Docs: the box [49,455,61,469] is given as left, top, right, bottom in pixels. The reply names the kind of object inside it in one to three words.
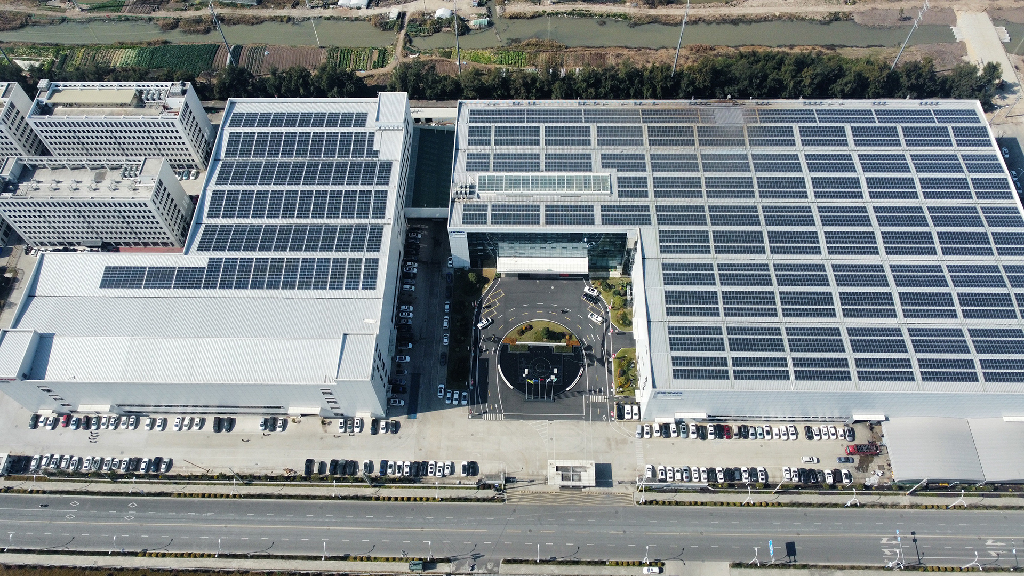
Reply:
vehicle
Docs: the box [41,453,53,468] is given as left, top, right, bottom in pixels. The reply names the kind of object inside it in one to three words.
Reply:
vehicle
